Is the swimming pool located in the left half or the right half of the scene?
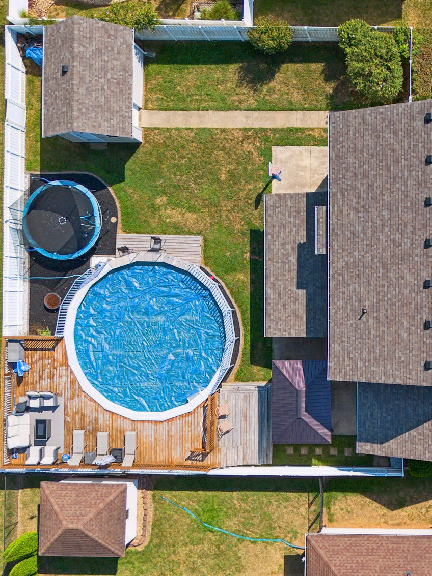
left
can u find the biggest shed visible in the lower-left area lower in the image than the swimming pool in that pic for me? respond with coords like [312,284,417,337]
[39,478,137,558]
